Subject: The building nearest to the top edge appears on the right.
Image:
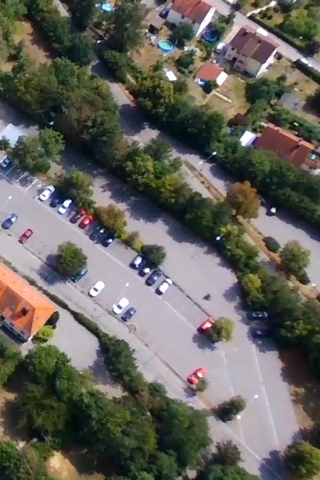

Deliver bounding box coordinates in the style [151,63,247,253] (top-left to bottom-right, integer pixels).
[168,0,221,29]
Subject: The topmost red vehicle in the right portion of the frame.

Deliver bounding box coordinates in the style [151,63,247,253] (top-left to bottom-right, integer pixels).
[196,317,215,335]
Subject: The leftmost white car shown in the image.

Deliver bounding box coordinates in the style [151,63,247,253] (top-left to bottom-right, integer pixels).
[37,185,55,202]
